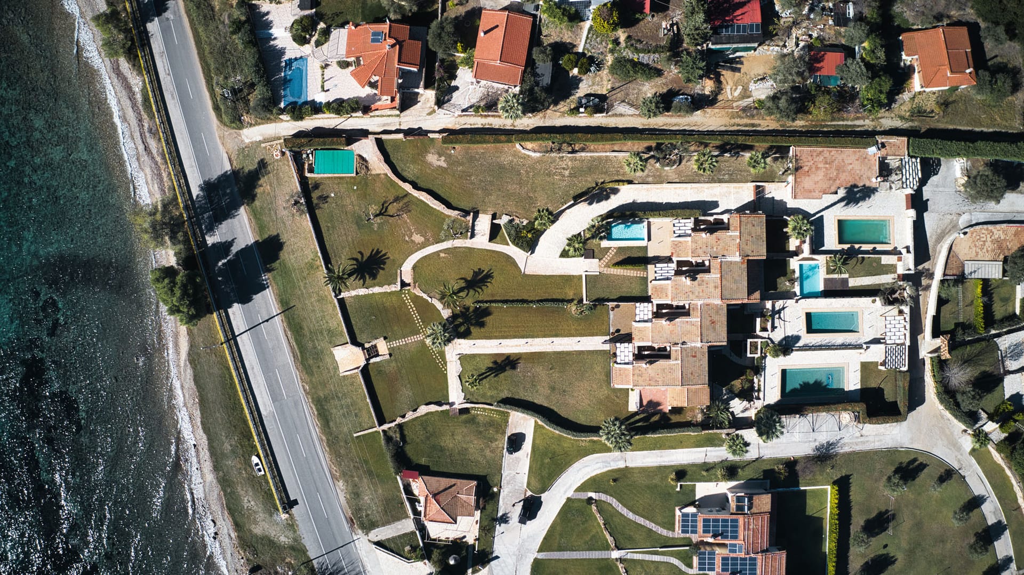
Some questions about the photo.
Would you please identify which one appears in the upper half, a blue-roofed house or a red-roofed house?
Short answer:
red-roofed house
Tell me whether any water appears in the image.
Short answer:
Yes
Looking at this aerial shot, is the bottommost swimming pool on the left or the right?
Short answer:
right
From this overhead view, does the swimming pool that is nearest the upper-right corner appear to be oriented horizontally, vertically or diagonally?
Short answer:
horizontally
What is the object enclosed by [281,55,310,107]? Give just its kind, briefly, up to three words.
swimming pool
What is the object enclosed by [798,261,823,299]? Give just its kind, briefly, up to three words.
swimming pool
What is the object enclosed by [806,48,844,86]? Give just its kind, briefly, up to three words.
shed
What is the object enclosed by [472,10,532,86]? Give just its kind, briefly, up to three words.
house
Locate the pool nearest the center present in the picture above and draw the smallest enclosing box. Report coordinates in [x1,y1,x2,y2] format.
[608,220,648,243]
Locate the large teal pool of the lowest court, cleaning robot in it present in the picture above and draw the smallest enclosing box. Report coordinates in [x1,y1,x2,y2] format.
[778,364,849,403]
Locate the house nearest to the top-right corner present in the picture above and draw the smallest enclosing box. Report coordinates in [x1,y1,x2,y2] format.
[896,27,976,90]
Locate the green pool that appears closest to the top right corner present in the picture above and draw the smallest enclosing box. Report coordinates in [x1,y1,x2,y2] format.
[835,216,895,247]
